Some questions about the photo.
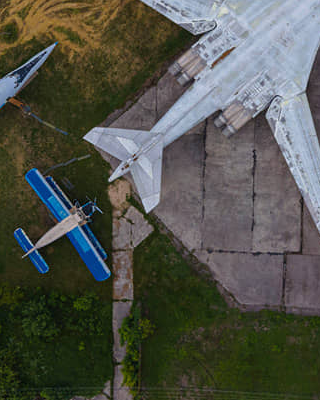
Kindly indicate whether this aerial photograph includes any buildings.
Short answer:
No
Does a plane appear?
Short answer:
Yes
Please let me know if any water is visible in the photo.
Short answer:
No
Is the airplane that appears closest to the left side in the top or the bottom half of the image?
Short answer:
top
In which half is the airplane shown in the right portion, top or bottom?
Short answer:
top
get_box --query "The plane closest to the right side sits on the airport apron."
[83,0,320,234]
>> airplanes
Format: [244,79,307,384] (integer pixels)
[14,169,110,281]
[83,0,320,234]
[0,43,57,109]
